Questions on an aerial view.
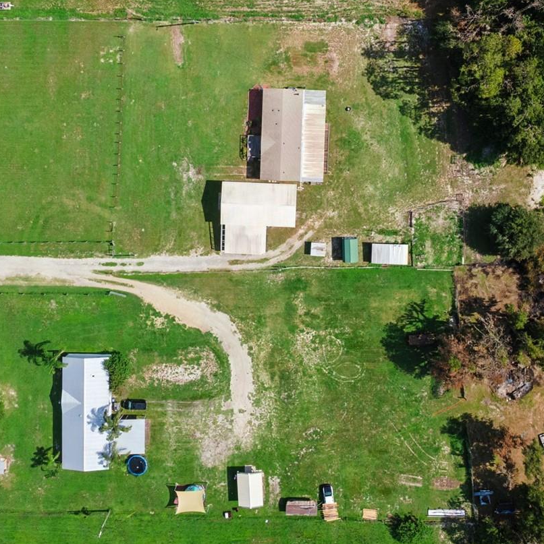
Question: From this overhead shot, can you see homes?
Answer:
Yes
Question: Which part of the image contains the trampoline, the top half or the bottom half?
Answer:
bottom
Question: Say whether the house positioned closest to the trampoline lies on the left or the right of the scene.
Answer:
left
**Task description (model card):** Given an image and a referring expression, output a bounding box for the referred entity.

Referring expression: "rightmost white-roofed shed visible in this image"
[370,242,409,266]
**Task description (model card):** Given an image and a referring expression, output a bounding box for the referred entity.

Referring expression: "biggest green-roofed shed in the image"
[342,232,357,263]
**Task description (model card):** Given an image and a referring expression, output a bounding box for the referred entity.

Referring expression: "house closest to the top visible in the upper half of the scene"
[259,85,327,184]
